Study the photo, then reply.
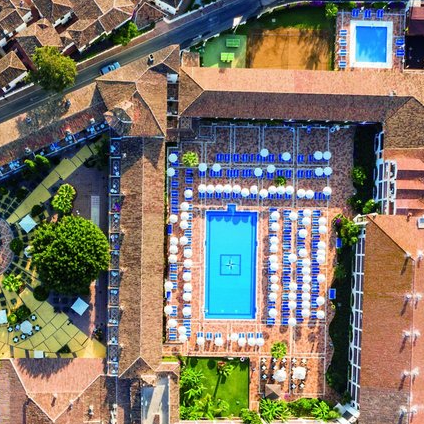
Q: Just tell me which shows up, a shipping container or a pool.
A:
pool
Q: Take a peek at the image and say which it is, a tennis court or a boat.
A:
tennis court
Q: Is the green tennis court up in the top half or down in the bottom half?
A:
top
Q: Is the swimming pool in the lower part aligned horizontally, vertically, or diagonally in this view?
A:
vertically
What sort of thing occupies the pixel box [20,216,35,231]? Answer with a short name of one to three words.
umbrella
